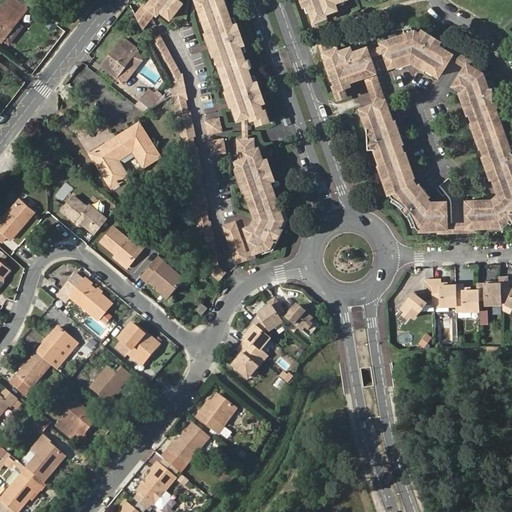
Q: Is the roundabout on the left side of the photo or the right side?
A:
right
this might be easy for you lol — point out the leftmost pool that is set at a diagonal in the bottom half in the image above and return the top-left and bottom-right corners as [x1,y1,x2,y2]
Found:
[84,316,105,337]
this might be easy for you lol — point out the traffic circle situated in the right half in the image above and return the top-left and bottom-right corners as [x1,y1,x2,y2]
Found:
[301,209,397,305]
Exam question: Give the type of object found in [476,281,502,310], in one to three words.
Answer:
house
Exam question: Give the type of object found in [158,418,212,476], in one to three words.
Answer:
house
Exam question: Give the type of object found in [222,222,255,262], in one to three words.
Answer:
building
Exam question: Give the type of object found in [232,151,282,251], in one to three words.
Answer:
building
